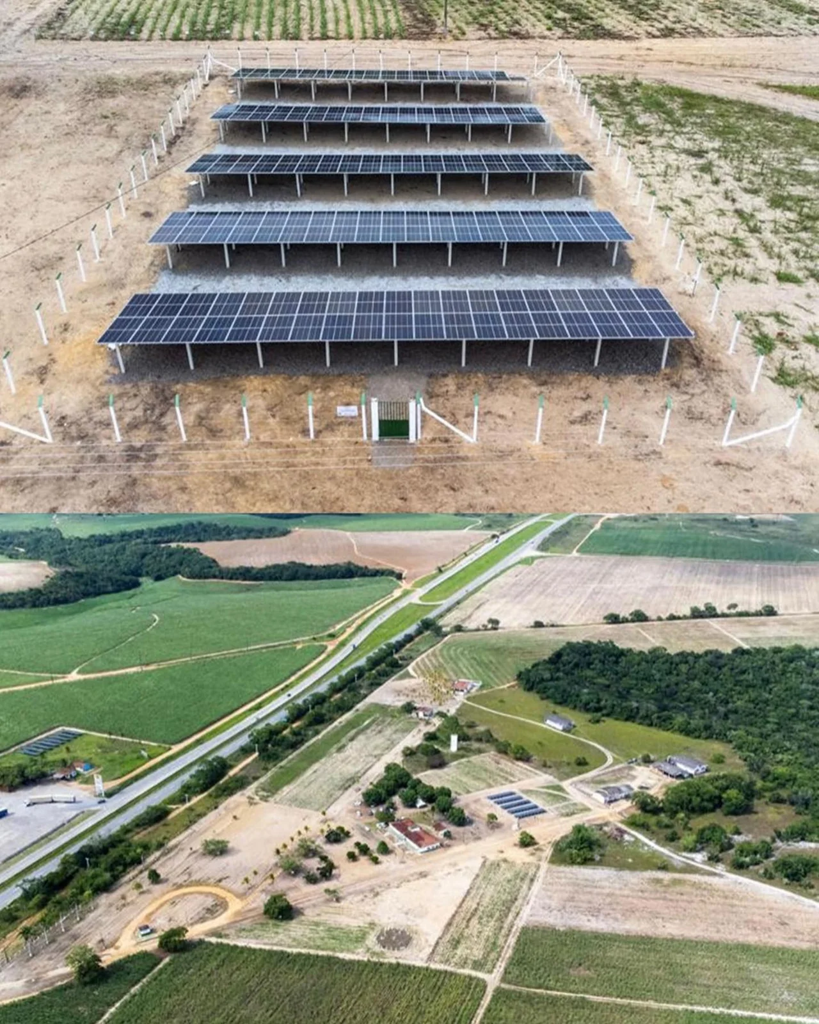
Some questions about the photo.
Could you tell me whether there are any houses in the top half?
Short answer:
No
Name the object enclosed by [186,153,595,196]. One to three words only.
solar array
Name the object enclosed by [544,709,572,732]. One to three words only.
barn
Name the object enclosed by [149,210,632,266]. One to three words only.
solar array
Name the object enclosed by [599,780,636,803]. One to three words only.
house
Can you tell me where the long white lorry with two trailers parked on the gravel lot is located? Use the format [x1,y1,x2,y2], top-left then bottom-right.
[21,794,75,810]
